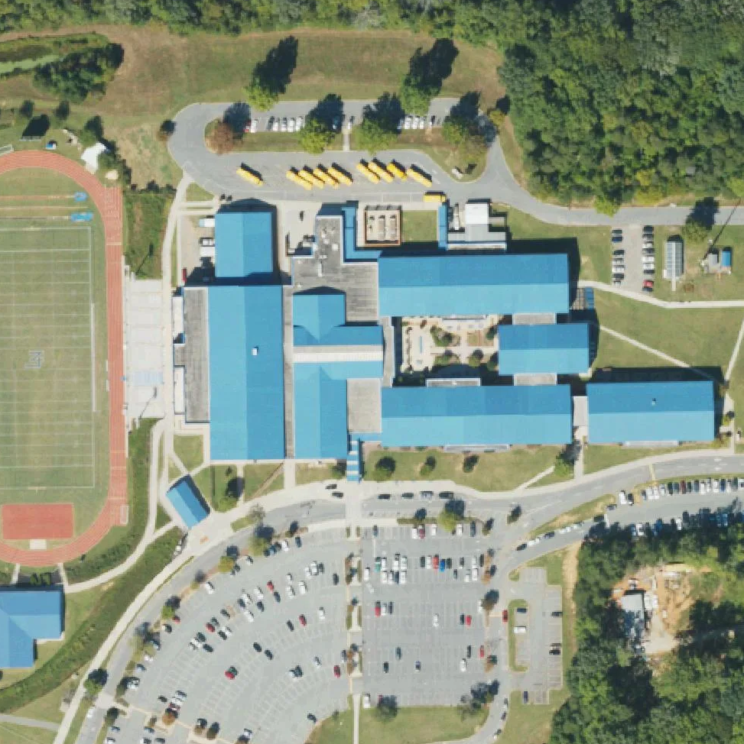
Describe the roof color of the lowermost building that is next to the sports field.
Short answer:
blue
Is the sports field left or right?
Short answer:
left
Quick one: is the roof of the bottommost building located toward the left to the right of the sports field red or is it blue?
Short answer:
blue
